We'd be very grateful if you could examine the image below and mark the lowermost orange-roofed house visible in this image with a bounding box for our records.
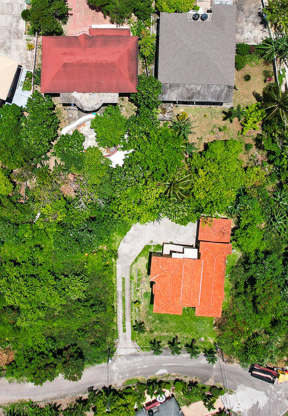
[150,241,232,318]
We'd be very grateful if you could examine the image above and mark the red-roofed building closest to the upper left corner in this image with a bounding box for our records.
[40,24,138,111]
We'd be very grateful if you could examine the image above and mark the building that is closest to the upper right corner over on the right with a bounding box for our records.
[158,4,237,102]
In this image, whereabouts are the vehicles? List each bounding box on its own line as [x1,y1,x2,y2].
[249,360,288,387]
